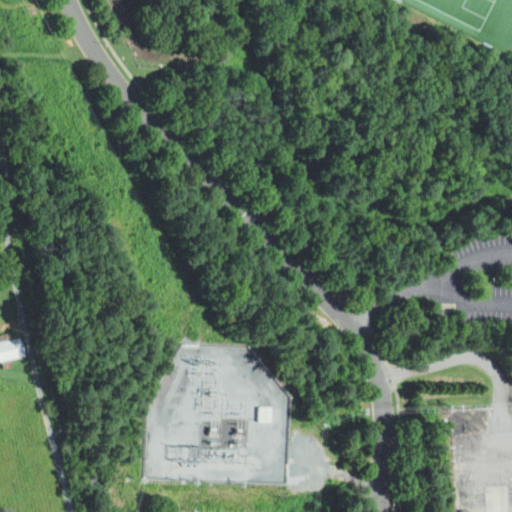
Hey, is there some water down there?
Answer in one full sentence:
No, there is no water in the image.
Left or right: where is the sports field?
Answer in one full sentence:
The sports field sits on the right side.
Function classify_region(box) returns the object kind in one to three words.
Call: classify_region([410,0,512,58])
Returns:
sports field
